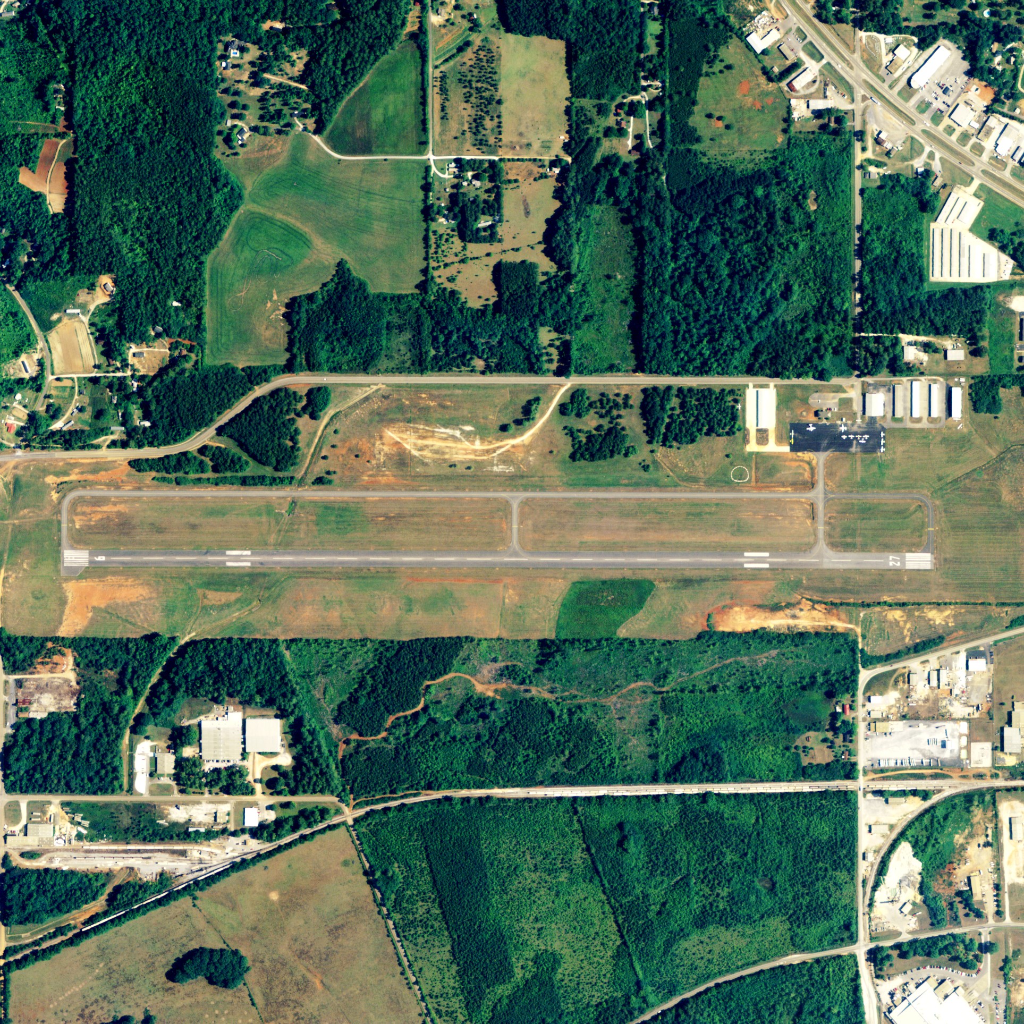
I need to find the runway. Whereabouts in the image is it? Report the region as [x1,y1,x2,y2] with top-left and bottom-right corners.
[61,550,934,576]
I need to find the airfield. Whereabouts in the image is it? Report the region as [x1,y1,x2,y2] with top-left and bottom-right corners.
[61,416,934,576]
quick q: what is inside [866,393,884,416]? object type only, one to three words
hangar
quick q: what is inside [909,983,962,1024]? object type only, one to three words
building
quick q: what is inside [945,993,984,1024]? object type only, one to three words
building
